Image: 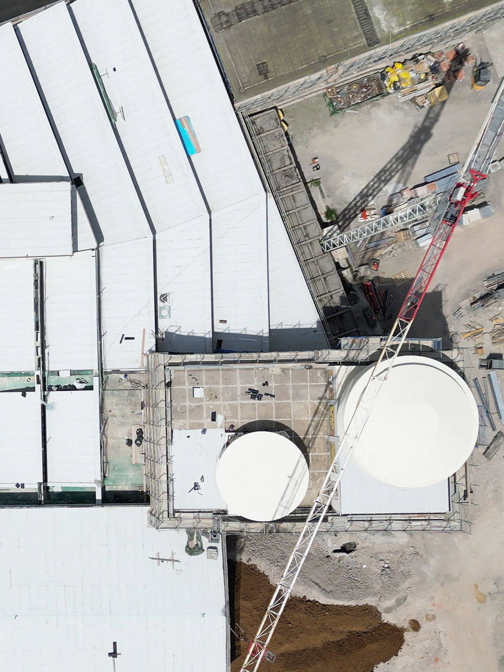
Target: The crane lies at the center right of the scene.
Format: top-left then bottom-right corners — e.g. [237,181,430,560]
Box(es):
[235,71,504,672]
